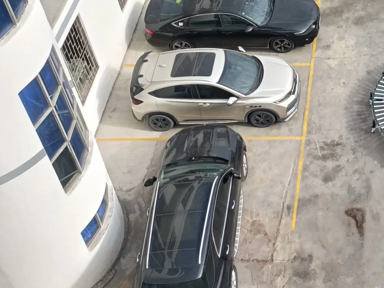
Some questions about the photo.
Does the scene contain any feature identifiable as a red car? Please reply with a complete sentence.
No, I find no red car anywhere in the image.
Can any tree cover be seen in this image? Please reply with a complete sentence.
No, no tree cover is visible.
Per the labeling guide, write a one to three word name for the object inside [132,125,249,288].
car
